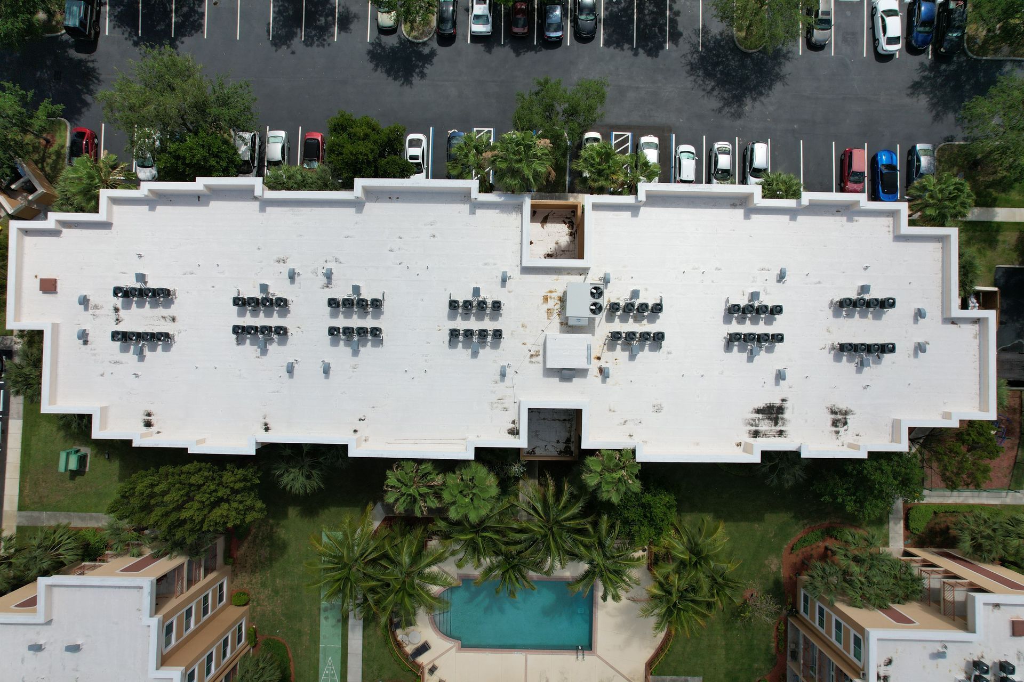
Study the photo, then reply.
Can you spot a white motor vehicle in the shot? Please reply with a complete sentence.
Yes, the frame does contain a white motor vehicle.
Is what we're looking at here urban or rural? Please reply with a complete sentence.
It looks urban.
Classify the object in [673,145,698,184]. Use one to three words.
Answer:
car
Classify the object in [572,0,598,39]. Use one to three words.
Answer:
car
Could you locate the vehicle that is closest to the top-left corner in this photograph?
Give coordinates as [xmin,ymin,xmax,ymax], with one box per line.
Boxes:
[66,0,100,45]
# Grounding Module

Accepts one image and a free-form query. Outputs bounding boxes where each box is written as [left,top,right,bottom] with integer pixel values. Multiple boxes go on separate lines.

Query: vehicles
[745,142,770,189]
[66,0,100,45]
[572,0,598,39]
[807,0,835,47]
[471,0,493,38]
[872,149,904,202]
[840,149,868,193]
[635,136,661,180]
[580,132,602,149]
[869,0,900,57]
[235,131,261,177]
[673,145,698,184]
[68,127,100,167]
[436,0,459,38]
[908,0,938,51]
[303,132,327,169]
[932,0,965,57]
[374,0,400,32]
[540,0,566,42]
[908,144,935,186]
[404,133,429,179]
[264,131,292,173]
[709,142,735,185]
